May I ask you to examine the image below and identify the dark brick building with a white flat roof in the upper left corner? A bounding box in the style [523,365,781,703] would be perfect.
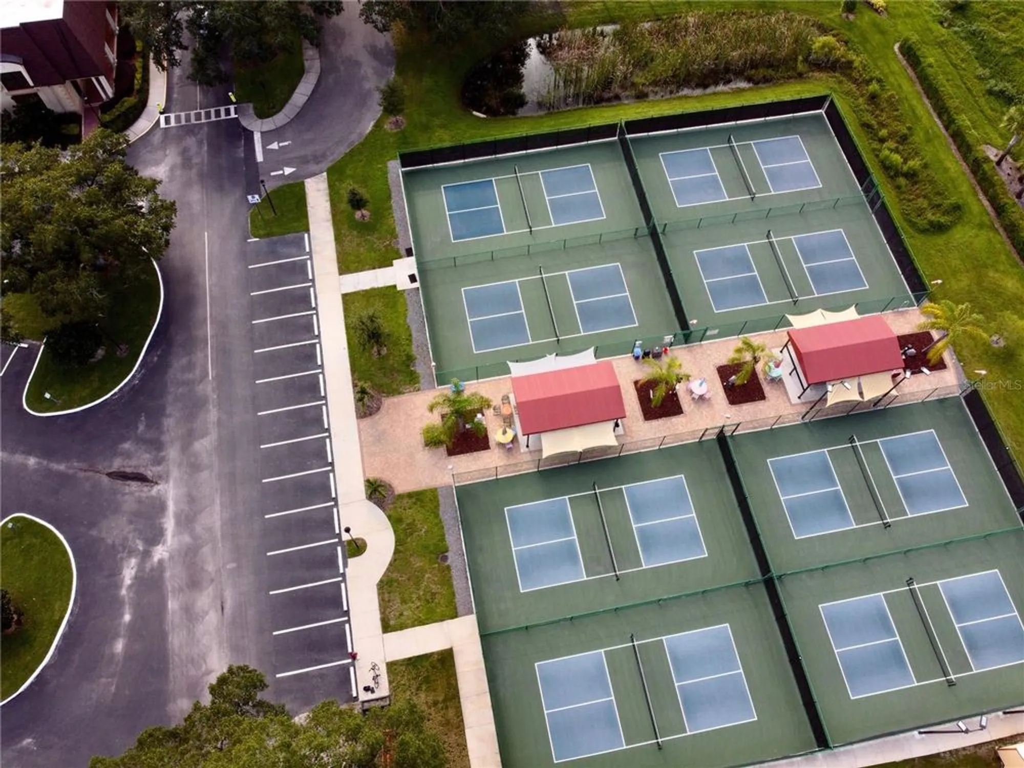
[0,0,117,112]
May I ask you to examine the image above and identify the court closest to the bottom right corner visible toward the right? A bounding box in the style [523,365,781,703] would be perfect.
[763,529,1024,750]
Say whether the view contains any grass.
Yes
